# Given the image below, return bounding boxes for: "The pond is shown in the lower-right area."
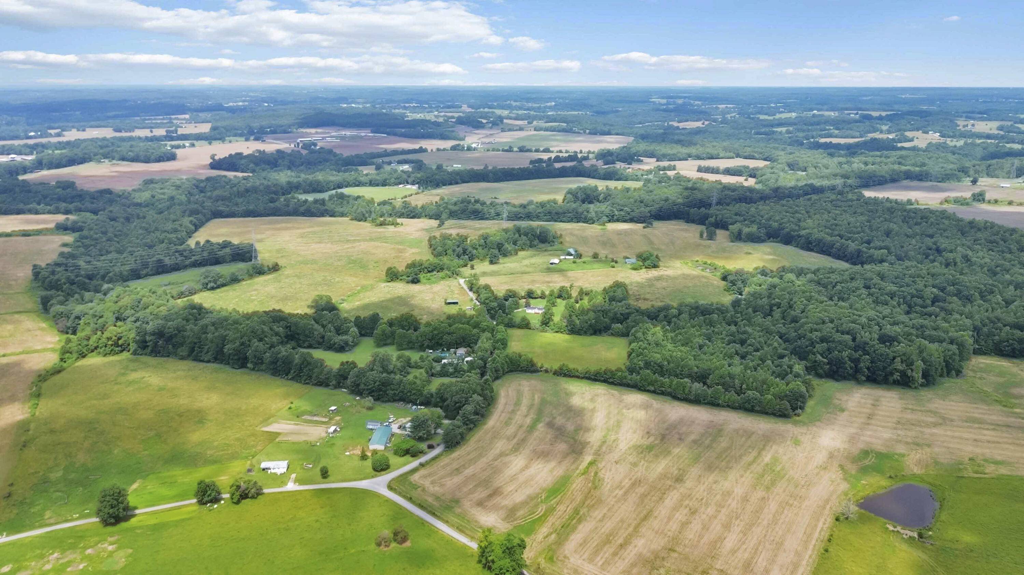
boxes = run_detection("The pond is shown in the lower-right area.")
[856,483,940,527]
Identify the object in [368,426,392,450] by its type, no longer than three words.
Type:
building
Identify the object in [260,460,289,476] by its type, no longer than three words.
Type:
building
